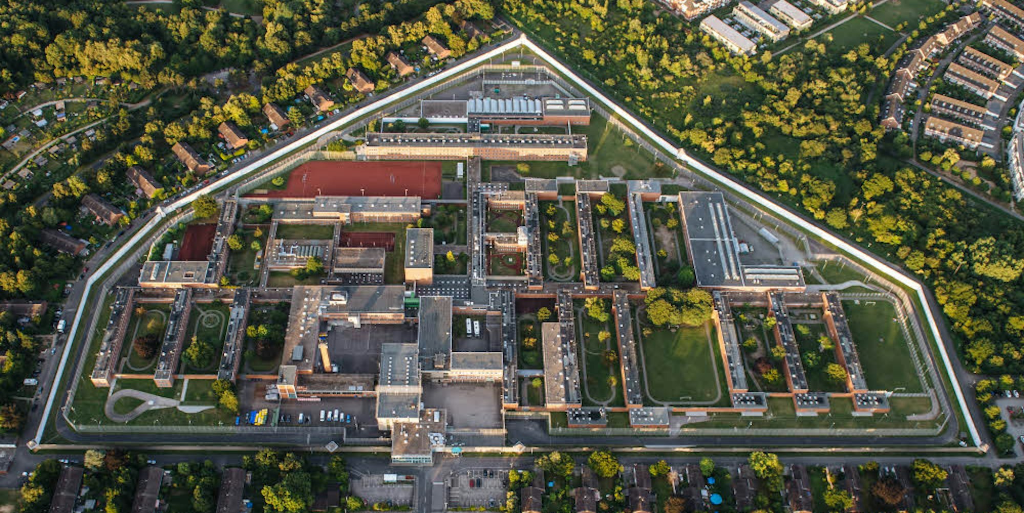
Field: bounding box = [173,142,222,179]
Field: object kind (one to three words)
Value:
house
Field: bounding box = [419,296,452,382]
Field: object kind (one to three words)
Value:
building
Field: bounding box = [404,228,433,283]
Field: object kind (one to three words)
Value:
building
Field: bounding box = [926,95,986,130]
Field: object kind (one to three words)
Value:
house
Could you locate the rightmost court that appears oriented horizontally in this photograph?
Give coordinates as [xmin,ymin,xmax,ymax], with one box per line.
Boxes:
[517,298,556,313]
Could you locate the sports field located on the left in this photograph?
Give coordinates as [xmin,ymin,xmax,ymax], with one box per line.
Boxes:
[243,161,441,198]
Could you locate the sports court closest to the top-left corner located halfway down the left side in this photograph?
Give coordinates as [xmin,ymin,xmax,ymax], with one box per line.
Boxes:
[177,223,217,259]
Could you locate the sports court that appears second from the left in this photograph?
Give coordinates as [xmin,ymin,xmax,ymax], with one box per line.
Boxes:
[340,232,395,250]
